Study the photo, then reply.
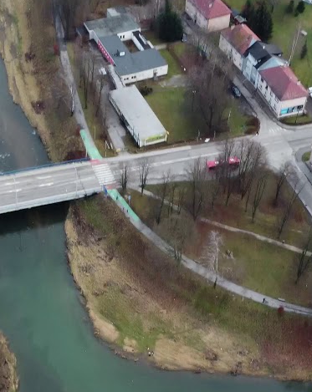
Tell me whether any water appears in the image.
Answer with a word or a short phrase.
Yes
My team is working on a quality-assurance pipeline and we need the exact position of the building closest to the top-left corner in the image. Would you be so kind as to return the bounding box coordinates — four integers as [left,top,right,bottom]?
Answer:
[77,7,168,85]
